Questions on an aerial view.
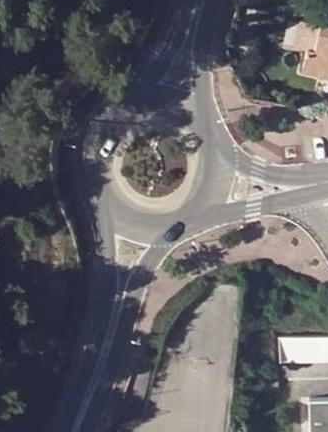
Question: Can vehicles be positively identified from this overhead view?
Yes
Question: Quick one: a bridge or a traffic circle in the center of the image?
traffic circle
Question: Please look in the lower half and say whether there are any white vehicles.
No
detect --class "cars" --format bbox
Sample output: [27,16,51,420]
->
[99,138,116,158]
[314,138,326,159]
[163,222,184,242]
